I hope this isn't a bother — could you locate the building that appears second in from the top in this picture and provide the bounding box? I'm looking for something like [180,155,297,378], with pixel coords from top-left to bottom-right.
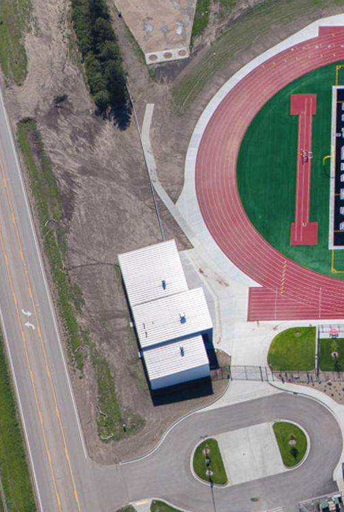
[133,288,214,359]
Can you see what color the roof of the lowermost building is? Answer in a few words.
white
